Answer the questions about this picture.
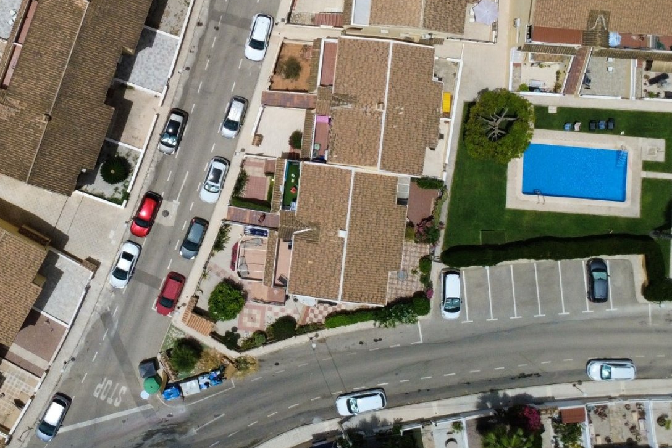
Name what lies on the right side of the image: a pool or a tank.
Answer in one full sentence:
The one visible on the right side of the image is a pool.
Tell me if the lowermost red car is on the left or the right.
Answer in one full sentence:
The lowermost red car sits on the left side.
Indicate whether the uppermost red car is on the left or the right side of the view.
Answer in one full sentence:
The uppermost red car is on the left side of the image.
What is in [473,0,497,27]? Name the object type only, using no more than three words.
umbrella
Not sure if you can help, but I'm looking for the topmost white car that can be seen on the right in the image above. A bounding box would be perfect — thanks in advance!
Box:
[438,269,465,318]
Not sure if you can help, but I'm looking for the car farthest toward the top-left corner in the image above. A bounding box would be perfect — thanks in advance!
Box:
[159,108,188,154]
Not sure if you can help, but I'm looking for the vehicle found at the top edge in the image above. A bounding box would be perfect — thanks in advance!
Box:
[244,13,272,61]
